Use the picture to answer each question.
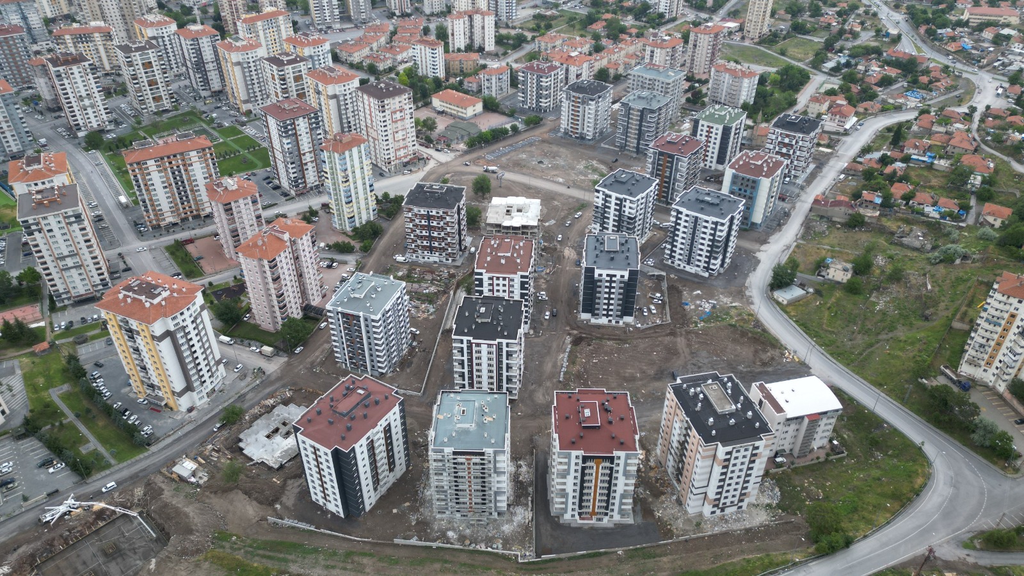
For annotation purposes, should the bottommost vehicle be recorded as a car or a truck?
truck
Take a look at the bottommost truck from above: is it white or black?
white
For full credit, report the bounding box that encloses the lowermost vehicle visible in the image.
[35,490,159,544]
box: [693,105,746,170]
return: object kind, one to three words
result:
building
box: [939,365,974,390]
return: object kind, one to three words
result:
truck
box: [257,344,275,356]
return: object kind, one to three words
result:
vehicle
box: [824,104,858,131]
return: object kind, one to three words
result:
house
